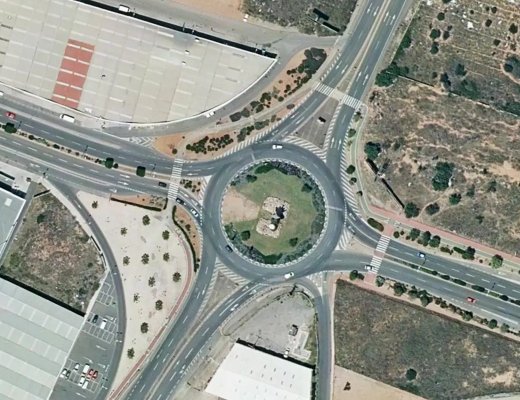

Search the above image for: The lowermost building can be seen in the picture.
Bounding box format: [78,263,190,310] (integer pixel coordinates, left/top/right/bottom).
[205,342,313,400]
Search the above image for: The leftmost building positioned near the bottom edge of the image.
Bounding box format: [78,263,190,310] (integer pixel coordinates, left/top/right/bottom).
[0,276,86,400]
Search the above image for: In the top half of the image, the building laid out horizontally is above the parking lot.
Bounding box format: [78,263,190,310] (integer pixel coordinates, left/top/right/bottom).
[0,0,277,125]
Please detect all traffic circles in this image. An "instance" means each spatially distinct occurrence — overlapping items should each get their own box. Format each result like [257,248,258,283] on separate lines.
[190,127,353,284]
